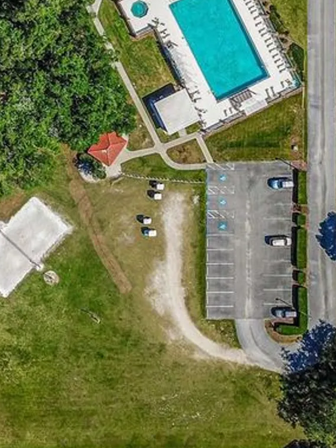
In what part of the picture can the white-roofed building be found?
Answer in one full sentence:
Look in the top portion of the view to spot the white-roofed building.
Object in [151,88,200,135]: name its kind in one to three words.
building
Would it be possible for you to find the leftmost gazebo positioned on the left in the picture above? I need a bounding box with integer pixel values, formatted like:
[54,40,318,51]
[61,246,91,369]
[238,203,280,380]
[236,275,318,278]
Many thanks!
[87,129,128,166]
